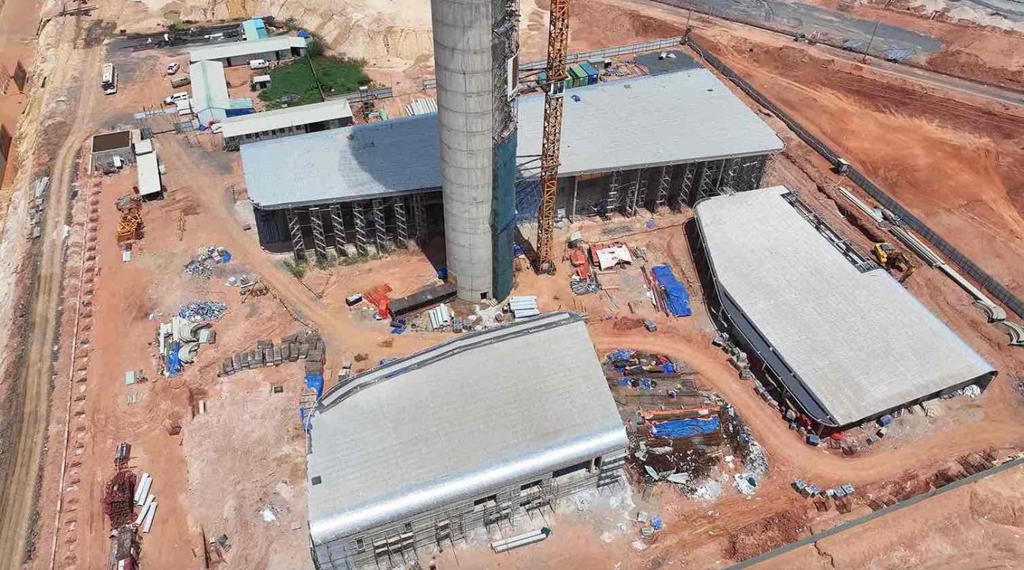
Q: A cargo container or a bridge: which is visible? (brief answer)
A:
cargo container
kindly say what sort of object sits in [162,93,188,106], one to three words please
vehicle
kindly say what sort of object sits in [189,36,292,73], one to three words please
building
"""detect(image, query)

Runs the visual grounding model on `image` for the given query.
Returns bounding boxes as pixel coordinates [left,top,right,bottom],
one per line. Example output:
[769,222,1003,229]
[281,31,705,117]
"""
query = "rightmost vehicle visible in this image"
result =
[877,249,921,289]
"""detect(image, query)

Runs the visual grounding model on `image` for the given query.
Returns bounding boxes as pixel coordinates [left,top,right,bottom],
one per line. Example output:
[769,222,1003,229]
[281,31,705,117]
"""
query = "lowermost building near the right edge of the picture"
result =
[699,187,1002,446]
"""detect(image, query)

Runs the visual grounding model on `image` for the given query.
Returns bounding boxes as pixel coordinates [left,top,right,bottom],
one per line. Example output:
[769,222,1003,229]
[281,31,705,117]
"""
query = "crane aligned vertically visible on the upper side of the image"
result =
[510,0,569,275]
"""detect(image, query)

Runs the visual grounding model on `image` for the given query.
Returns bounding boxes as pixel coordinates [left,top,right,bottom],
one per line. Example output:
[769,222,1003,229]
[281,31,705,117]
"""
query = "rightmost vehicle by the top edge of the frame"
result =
[796,28,810,40]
